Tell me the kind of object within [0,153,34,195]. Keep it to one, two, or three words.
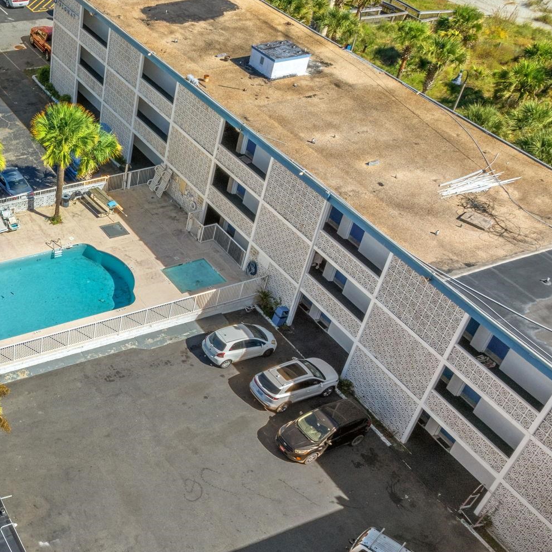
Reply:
car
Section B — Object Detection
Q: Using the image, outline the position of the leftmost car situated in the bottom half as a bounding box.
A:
[206,319,281,366]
